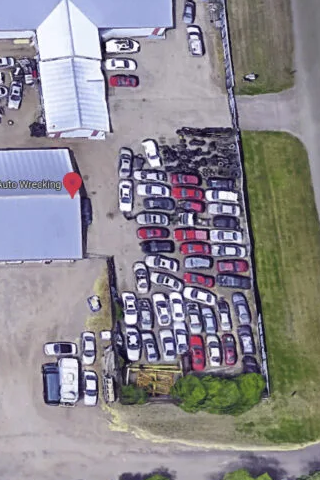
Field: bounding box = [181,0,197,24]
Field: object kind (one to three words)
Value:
car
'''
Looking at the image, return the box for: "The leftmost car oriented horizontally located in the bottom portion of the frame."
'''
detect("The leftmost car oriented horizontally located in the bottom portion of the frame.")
[44,341,76,356]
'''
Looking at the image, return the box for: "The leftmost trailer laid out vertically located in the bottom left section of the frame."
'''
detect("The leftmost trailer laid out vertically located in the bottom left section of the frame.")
[40,362,63,407]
